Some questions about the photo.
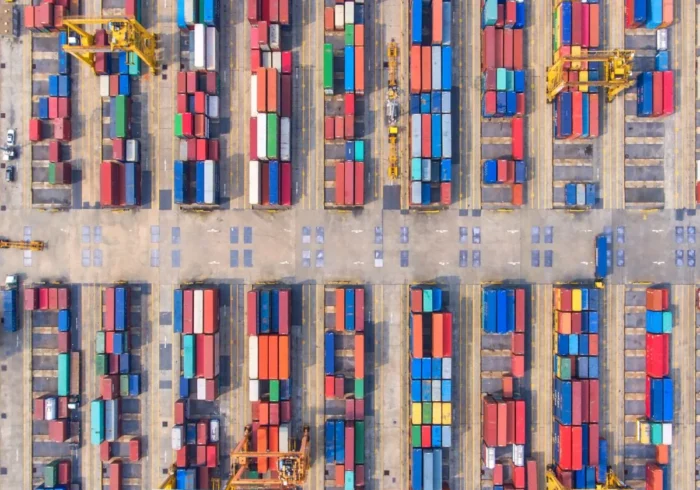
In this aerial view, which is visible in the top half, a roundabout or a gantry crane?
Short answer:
gantry crane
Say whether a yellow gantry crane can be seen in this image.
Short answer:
Yes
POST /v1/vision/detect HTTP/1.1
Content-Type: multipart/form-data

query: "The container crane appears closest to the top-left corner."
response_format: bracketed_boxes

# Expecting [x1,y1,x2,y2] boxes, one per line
[62,14,157,76]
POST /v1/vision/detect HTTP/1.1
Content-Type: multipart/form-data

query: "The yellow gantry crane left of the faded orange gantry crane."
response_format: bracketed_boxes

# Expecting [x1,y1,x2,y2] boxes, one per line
[150,462,237,490]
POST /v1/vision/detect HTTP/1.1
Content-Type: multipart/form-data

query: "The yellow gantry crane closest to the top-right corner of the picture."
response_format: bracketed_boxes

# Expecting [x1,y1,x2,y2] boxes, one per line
[546,44,644,105]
